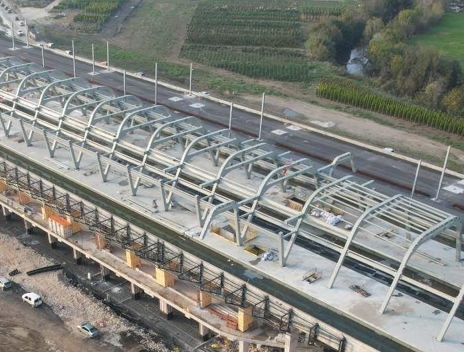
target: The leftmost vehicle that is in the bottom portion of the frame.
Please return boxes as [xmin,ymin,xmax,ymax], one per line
[0,277,13,292]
